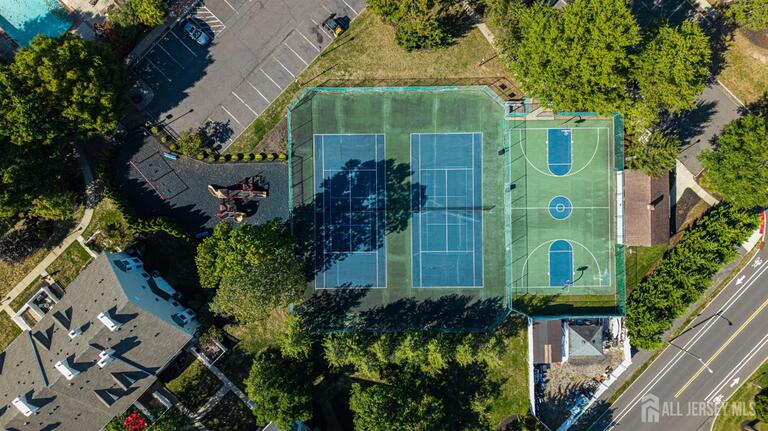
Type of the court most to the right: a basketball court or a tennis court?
basketball court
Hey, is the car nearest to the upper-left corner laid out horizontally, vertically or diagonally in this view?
diagonally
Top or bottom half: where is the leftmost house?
bottom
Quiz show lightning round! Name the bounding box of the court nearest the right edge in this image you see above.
[511,127,609,287]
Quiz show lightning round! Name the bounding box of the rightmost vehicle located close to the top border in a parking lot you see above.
[320,12,344,35]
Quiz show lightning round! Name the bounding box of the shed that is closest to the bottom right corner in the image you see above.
[568,324,602,364]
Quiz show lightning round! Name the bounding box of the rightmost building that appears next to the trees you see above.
[619,169,670,246]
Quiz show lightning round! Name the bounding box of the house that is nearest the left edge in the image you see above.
[0,251,210,431]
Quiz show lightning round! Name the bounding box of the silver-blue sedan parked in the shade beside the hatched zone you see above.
[179,20,210,46]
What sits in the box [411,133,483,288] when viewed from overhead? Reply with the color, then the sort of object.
blue tennis court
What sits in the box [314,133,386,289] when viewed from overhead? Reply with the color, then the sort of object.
blue tennis court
